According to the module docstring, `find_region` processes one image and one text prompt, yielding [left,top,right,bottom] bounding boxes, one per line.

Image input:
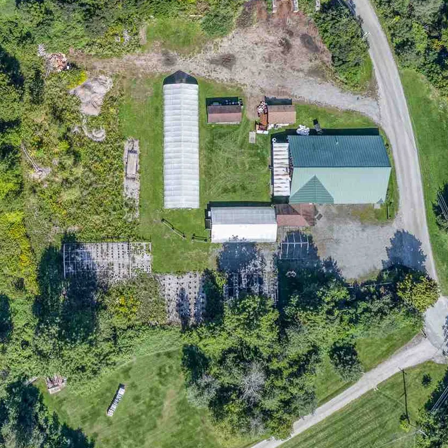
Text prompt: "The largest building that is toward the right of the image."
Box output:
[287,135,391,204]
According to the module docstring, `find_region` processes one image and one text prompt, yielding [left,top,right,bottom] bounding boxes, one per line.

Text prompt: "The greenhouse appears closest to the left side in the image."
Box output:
[163,82,199,208]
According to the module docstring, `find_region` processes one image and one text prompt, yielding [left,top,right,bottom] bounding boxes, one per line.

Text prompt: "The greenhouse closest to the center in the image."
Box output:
[206,207,277,242]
